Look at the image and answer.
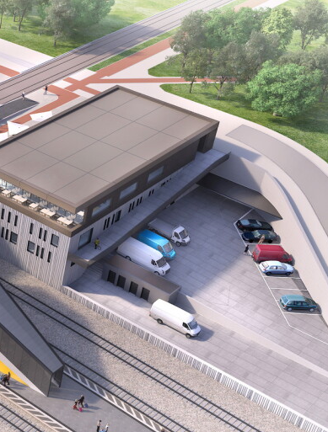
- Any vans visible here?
Yes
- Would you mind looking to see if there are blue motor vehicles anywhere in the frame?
Yes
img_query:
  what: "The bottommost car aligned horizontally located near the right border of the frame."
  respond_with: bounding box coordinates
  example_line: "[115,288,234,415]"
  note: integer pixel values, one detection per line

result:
[279,293,319,309]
